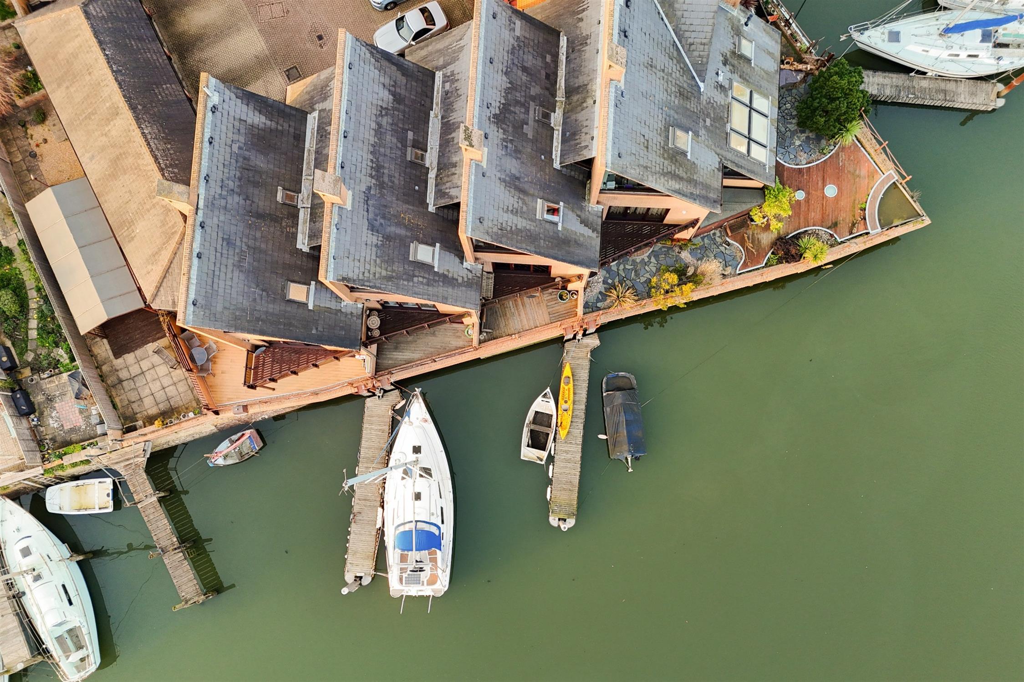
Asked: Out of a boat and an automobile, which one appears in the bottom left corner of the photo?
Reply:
boat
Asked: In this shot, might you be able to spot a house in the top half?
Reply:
Yes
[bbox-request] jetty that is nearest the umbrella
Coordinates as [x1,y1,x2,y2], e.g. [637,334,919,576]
[86,442,218,612]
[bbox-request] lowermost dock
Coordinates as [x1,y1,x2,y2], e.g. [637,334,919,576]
[0,585,43,678]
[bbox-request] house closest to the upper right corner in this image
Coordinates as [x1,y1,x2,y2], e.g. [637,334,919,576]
[532,0,781,273]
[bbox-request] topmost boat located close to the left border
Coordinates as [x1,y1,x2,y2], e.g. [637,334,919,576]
[44,480,120,513]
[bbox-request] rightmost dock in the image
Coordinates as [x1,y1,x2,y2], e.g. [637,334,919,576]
[855,69,1004,117]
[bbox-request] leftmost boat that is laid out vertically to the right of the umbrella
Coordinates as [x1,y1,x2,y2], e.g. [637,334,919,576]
[336,385,453,618]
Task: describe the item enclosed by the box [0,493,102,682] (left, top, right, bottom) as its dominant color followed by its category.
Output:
white boat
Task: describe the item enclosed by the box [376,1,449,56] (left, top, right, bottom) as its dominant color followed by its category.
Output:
white car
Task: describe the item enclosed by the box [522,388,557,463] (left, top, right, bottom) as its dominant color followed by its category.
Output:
white boat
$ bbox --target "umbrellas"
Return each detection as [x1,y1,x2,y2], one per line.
[68,371,91,400]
